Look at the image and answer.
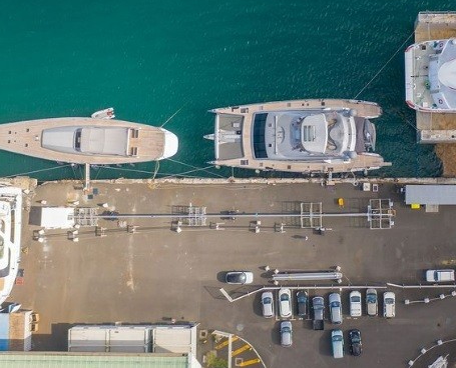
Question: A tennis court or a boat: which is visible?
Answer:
boat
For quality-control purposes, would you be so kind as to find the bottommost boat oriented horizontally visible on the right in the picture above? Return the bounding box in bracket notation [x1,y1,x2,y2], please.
[205,99,391,178]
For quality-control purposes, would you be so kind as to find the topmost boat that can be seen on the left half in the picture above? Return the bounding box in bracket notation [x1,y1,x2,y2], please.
[92,105,117,117]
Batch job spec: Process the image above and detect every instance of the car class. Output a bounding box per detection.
[365,288,378,316]
[348,289,361,317]
[225,271,253,285]
[425,269,455,283]
[279,319,293,347]
[348,328,362,356]
[328,291,342,324]
[277,288,292,318]
[330,328,344,359]
[382,291,396,318]
[294,289,308,317]
[261,291,274,318]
